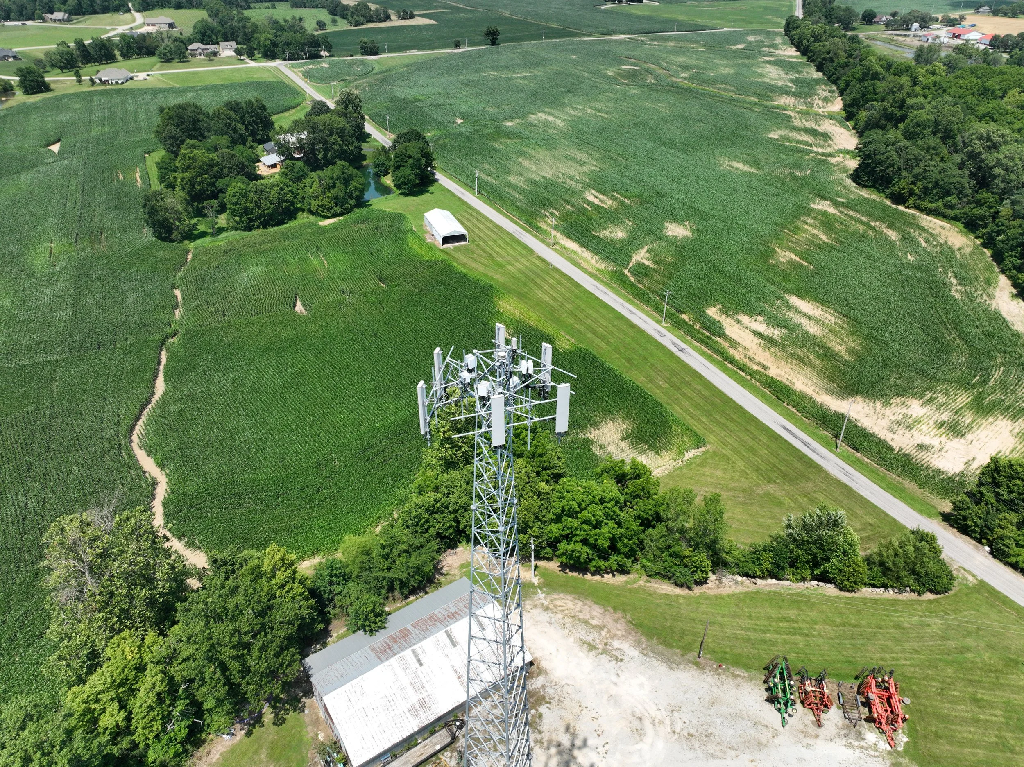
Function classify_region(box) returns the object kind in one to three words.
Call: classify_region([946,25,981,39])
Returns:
barn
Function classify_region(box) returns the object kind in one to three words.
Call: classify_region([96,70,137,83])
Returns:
house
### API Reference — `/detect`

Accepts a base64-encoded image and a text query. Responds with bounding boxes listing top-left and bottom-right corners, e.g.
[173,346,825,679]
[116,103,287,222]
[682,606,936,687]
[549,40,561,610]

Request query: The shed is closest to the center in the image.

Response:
[423,209,469,247]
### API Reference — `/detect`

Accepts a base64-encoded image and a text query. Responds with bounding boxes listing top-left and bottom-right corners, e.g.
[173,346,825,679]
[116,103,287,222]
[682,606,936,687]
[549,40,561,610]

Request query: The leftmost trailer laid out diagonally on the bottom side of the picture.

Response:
[396,720,466,767]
